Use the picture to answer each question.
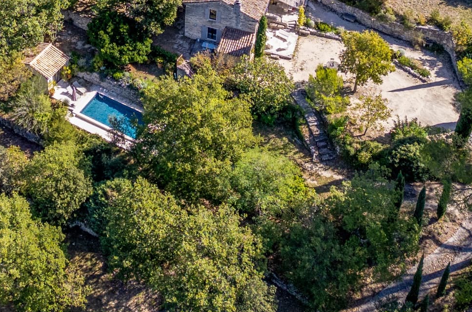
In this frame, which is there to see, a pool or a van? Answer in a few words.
pool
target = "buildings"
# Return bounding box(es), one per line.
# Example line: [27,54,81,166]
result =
[182,0,316,71]
[17,44,71,97]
